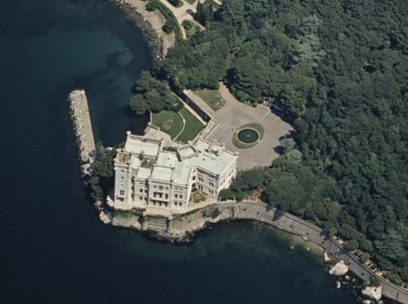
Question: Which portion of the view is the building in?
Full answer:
The building sits in the center section of the image.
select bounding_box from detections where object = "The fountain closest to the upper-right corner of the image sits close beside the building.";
[237,126,260,143]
